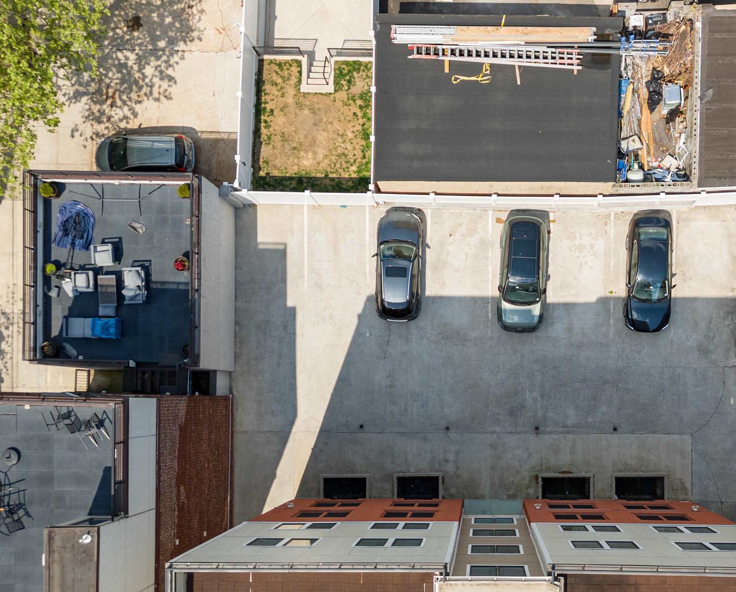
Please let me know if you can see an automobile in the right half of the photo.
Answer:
Yes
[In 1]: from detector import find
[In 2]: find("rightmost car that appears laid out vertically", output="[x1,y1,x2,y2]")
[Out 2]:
[622,214,677,334]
